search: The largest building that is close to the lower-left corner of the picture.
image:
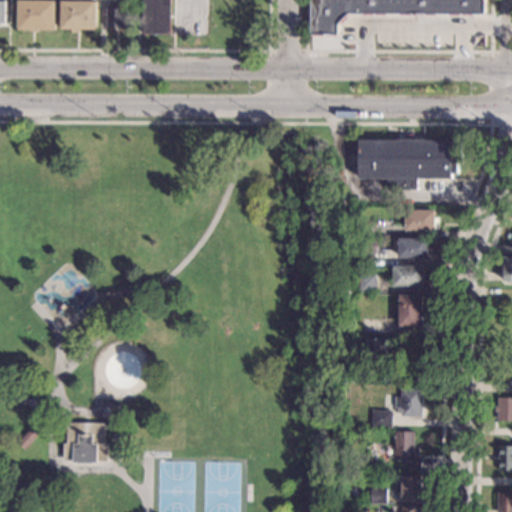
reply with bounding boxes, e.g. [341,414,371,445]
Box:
[62,423,107,463]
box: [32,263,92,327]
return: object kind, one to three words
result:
playground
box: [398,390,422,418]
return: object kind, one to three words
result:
house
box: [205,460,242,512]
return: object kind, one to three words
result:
basketball court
